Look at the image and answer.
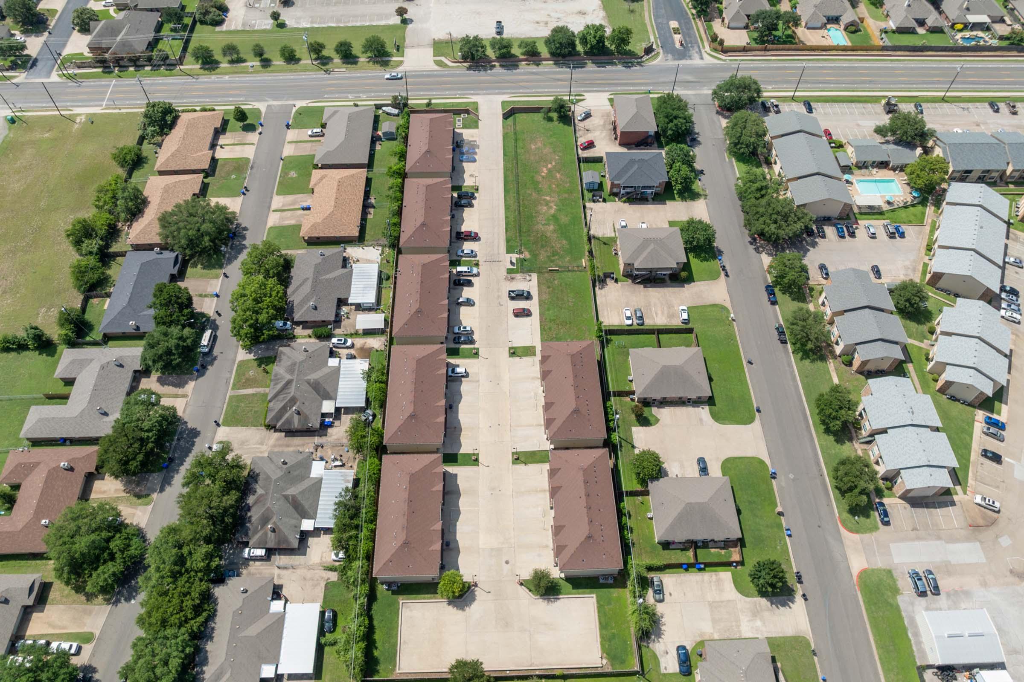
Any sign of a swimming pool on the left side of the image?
No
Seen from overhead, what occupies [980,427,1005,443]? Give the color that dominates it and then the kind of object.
gray car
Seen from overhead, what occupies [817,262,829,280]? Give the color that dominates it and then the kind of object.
gray vehicle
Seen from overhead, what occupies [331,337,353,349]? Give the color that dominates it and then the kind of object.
white vehicle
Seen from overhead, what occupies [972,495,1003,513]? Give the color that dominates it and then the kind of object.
white car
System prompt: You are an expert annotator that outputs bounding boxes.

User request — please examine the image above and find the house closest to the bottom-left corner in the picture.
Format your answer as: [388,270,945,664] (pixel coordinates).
[0,572,48,668]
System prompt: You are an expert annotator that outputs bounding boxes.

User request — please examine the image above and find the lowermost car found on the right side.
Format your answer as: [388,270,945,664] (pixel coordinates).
[676,646,691,676]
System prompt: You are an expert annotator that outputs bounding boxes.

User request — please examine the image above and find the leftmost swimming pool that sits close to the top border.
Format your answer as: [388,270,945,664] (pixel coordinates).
[826,26,848,45]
